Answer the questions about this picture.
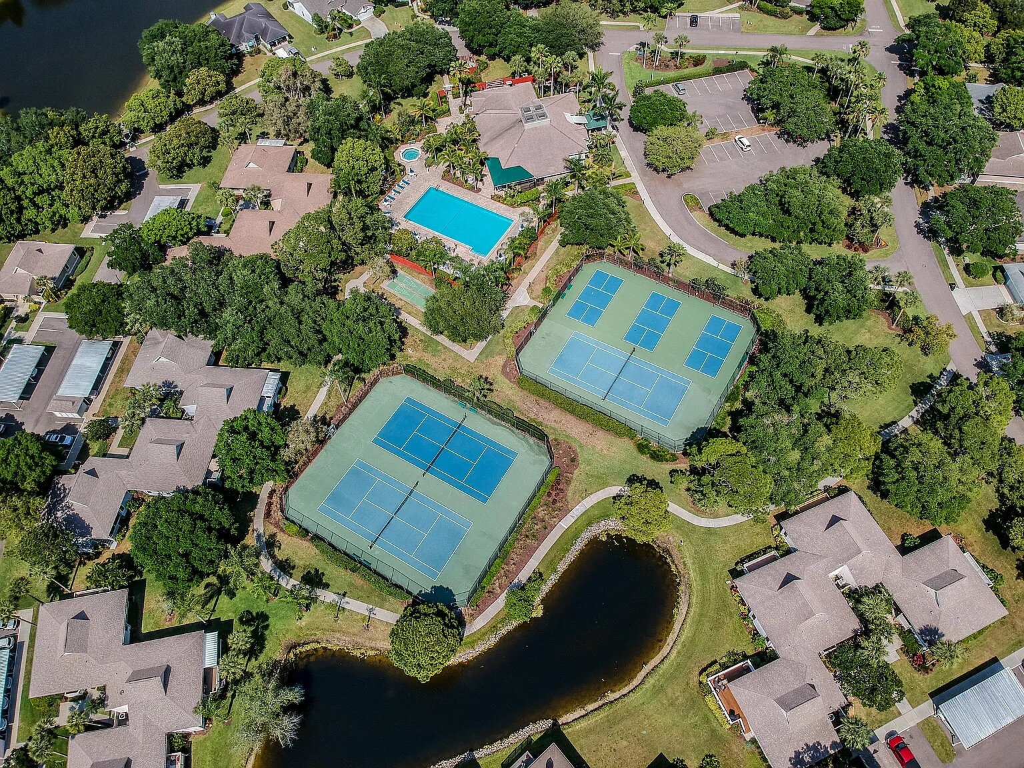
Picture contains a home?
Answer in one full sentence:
Yes, looking at the shot, I can spot a home.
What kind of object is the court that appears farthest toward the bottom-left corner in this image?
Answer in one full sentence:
The court that appears farthest toward the bottom-left corner appears to be a tennis court.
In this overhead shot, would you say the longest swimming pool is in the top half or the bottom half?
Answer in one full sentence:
The top half of the photo is where the longest swimming pool is.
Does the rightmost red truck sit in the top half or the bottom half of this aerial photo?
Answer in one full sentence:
You can find the rightmost red truck in the bottom half.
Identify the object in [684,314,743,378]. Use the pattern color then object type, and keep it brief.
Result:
blue sports court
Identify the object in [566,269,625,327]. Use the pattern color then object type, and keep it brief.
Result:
blue sports court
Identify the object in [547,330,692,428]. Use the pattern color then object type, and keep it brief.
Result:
blue tennis court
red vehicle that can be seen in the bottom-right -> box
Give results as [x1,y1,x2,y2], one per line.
[886,730,923,768]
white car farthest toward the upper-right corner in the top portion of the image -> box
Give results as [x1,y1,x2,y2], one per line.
[735,136,750,151]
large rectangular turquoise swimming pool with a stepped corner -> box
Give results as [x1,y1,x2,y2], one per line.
[402,184,517,258]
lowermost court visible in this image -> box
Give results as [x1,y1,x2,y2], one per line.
[317,458,473,581]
